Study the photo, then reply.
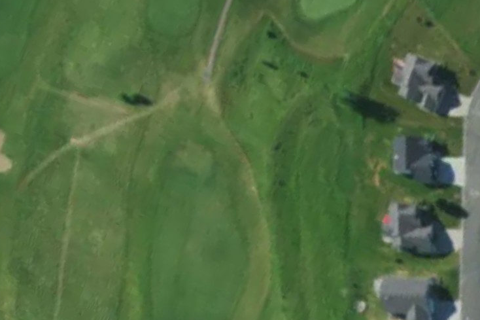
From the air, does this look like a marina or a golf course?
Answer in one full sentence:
It's a golf course.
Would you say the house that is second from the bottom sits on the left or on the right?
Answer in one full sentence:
The house that is second from the bottom appears in the right half of the scene.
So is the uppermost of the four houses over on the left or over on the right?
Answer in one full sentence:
The uppermost of the four houses sits on the right side.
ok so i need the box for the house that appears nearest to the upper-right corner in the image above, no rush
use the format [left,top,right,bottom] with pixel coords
[398,54,444,113]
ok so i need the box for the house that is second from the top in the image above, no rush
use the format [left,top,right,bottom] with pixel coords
[393,134,441,185]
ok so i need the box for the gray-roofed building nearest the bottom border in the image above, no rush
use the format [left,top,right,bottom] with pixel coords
[379,278,433,320]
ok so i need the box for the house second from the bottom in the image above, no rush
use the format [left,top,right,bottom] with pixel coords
[388,201,436,257]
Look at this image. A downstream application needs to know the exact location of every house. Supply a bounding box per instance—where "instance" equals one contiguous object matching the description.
[379,278,433,320]
[388,201,436,257]
[393,134,441,185]
[398,54,444,113]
